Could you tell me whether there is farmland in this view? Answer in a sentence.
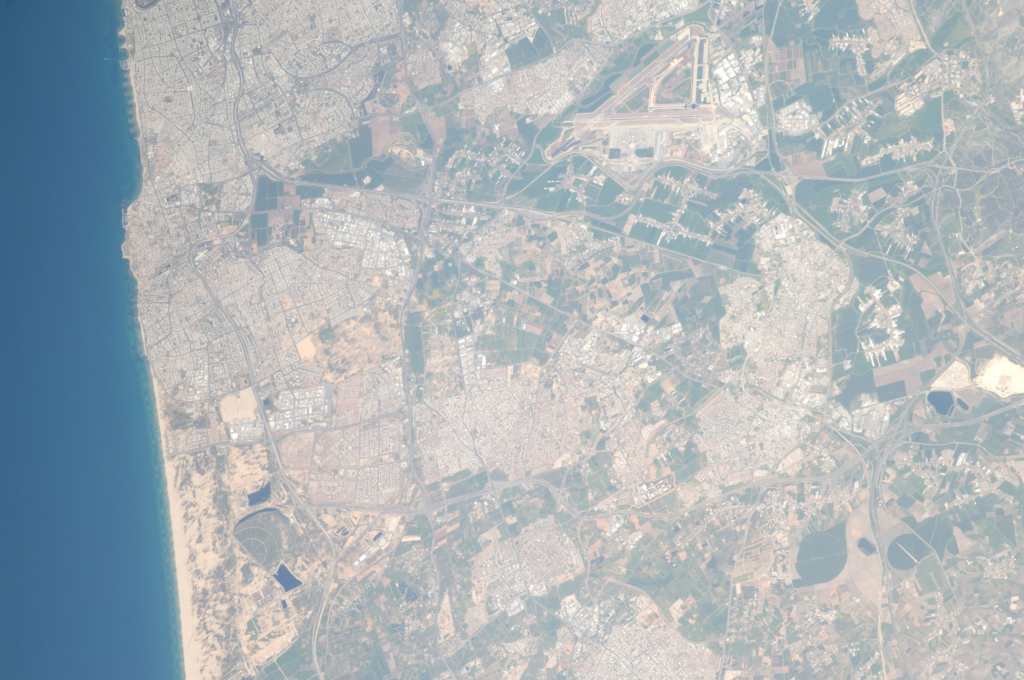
Yes, farmland can be seen from above here.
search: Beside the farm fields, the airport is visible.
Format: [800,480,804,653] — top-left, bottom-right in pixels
[546,26,756,170]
